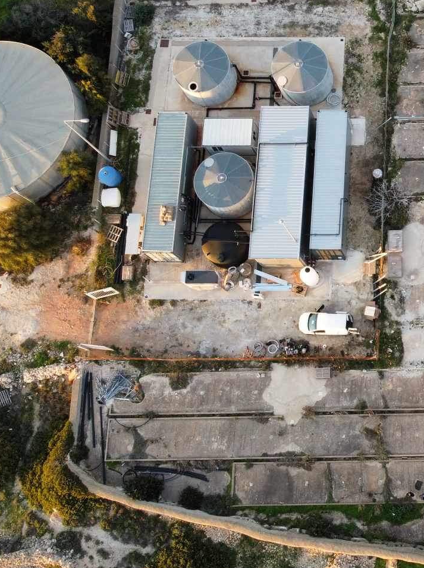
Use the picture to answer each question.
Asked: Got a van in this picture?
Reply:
Yes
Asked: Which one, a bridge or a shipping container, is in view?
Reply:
shipping container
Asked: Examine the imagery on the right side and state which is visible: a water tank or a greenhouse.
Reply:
water tank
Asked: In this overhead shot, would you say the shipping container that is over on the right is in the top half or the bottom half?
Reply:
top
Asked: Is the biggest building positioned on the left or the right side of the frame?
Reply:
right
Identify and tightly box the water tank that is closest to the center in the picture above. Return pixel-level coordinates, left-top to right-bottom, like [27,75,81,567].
[202,222,251,272]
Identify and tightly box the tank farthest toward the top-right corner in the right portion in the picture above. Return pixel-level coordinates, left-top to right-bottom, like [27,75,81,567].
[271,39,333,105]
